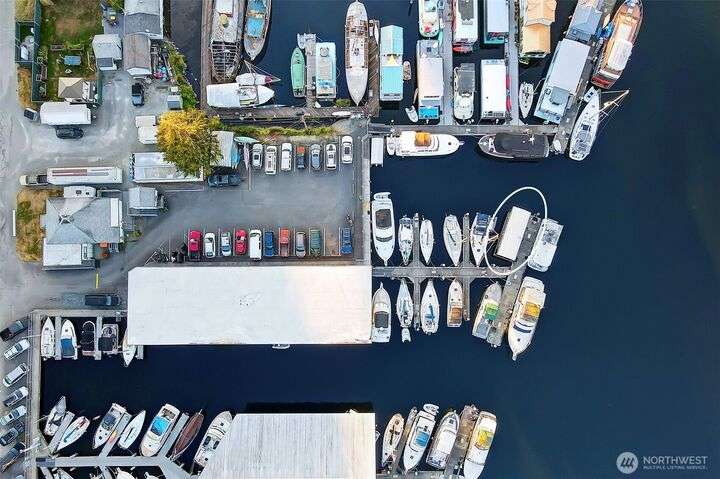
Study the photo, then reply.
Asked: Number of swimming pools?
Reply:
0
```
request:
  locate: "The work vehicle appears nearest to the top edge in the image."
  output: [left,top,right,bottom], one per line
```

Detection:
[105,11,119,32]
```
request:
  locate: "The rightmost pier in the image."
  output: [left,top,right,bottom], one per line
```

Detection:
[555,0,619,154]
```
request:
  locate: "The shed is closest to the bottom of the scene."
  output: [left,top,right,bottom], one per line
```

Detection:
[202,407,376,479]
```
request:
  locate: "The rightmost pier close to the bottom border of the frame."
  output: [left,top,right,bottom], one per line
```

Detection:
[378,405,477,479]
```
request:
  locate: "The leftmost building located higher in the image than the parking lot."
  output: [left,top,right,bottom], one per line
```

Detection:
[57,77,90,102]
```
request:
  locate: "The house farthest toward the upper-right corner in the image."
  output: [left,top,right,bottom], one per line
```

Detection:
[493,206,531,263]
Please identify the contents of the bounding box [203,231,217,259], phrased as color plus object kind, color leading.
white vehicle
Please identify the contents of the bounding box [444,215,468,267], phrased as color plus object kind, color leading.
white boat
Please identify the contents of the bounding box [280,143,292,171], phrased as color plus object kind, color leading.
white vehicle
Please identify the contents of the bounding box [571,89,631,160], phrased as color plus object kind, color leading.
white boat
